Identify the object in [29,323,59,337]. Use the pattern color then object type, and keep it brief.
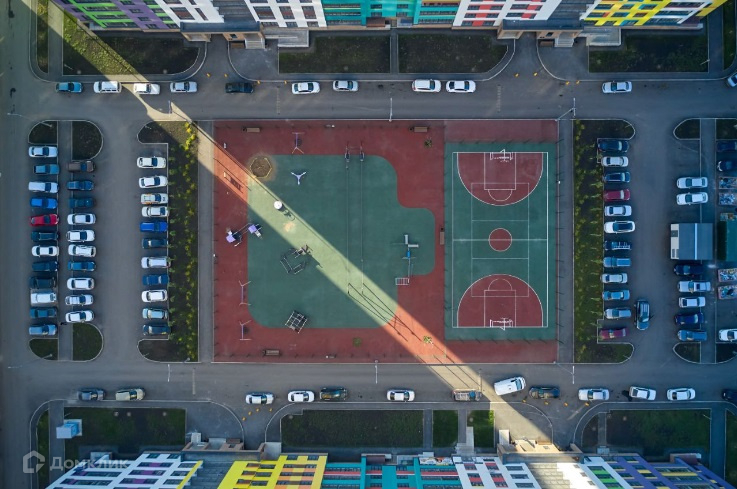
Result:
blue vehicle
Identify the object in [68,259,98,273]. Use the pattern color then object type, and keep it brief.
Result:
blue vehicle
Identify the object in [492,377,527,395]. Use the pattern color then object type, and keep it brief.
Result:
white vehicle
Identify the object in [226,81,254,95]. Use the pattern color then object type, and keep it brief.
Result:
black car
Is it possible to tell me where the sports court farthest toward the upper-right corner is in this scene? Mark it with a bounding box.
[443,122,556,362]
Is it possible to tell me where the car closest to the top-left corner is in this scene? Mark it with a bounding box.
[56,80,84,94]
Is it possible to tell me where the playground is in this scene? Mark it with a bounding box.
[214,122,443,362]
